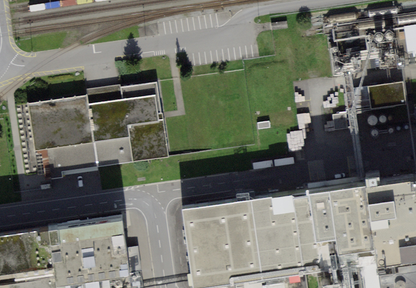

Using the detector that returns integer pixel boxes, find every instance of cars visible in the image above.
[78,176,84,188]
[334,172,346,178]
